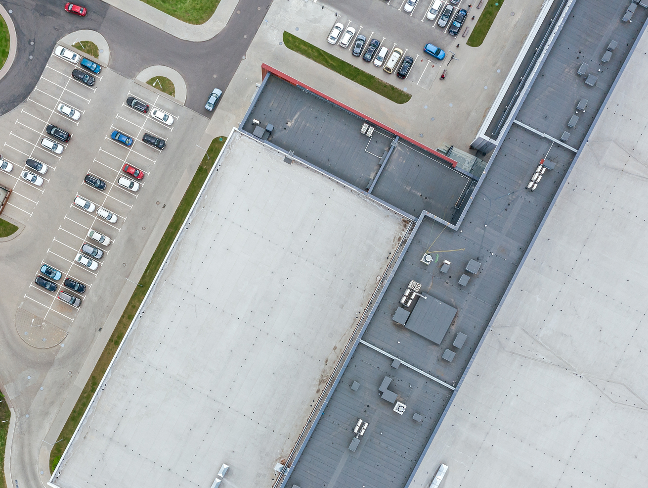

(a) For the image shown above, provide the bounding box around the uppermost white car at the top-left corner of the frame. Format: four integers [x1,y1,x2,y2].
[55,46,81,65]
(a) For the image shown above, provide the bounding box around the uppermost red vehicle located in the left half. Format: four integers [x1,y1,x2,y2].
[64,2,88,18]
